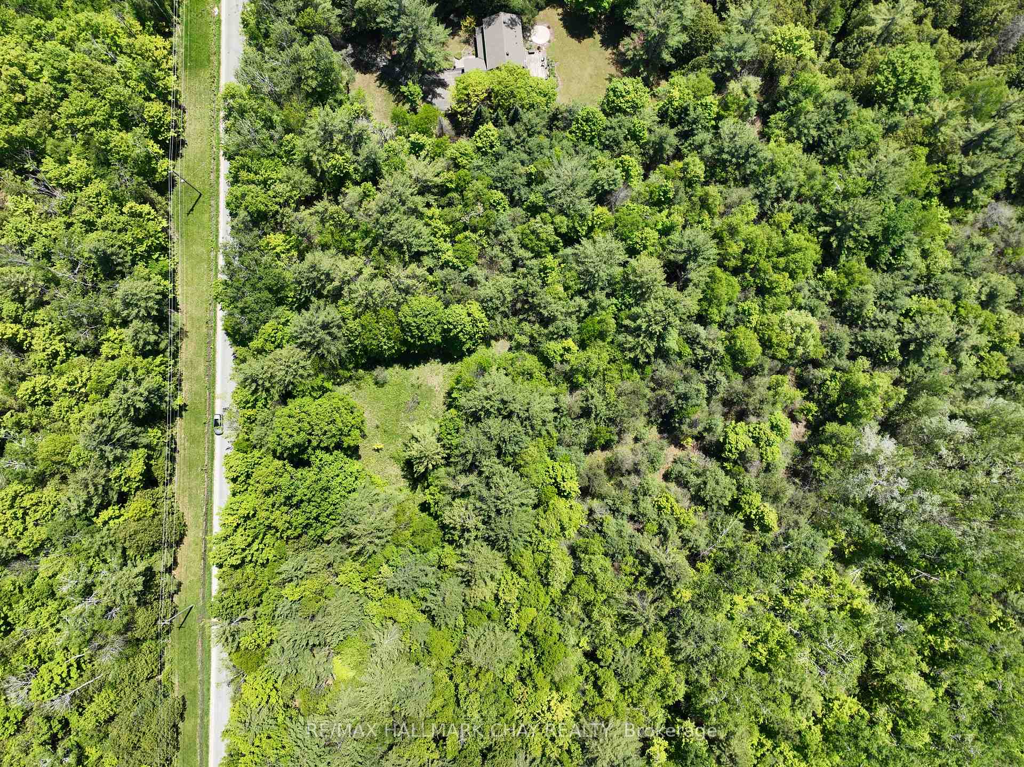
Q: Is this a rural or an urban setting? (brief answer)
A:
rural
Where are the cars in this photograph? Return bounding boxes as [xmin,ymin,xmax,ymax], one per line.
[212,414,224,436]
